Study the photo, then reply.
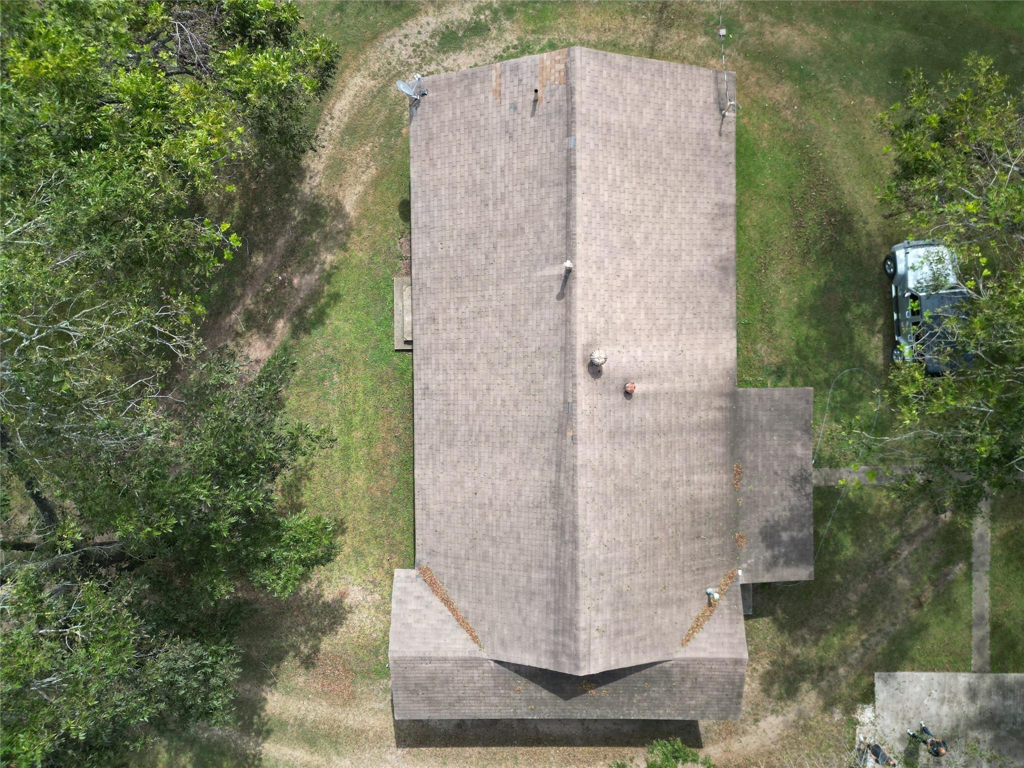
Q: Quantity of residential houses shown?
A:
1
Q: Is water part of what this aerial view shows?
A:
No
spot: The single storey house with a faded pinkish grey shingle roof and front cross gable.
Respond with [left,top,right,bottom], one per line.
[388,46,814,720]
